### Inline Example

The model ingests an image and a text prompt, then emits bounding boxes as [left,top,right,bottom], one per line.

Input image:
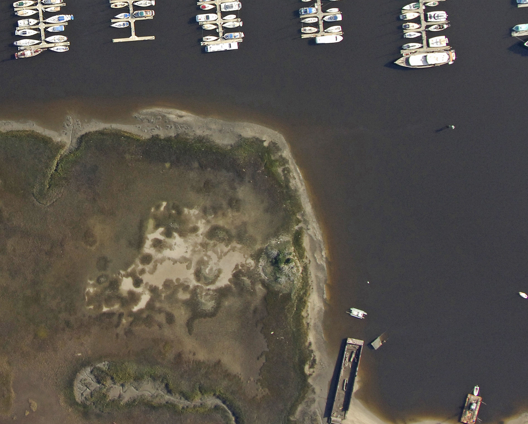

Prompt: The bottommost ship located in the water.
[460,394,484,424]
